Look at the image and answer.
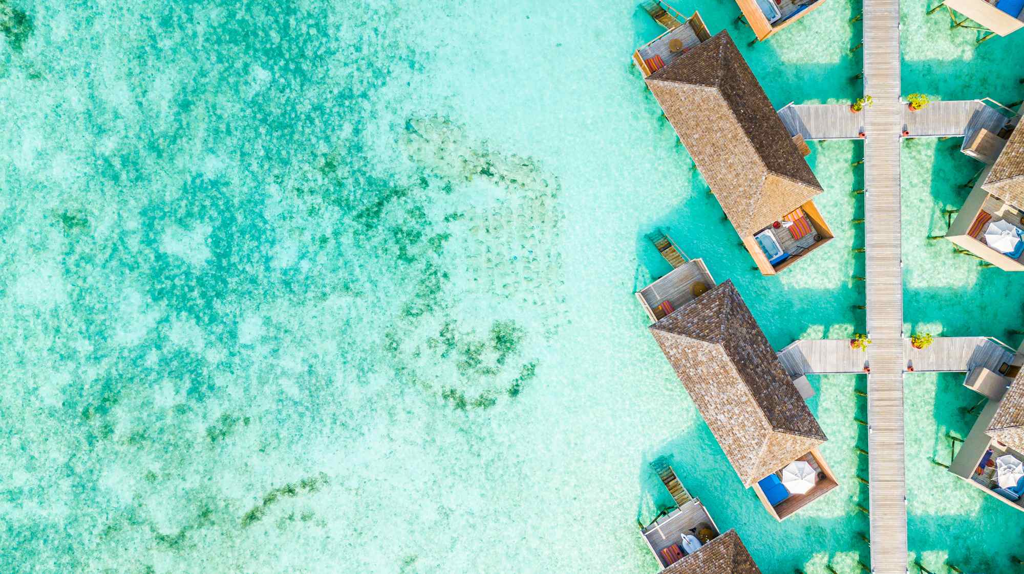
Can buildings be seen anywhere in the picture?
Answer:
Yes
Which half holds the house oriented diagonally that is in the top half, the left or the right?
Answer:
right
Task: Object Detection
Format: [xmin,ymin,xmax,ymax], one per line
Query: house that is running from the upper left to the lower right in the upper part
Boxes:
[627,0,833,274]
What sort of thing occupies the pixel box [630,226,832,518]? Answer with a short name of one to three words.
house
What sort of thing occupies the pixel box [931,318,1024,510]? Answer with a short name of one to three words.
house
